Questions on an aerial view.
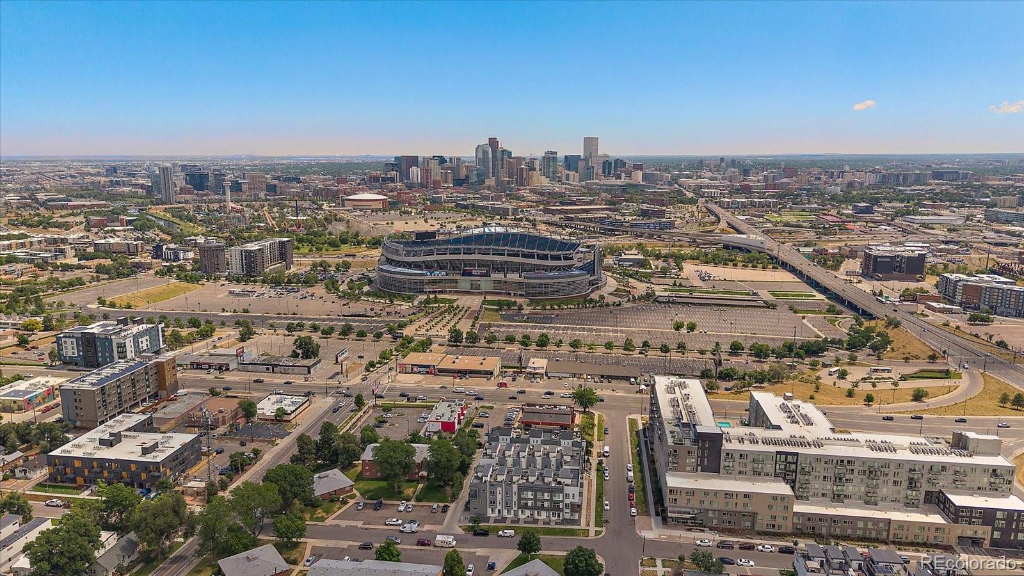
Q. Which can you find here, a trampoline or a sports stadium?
sports stadium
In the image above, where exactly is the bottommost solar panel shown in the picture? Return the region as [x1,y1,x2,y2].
[63,367,135,388]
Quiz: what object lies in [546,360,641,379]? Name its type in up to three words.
building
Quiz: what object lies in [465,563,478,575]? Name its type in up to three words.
vehicle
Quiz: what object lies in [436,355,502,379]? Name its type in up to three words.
building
